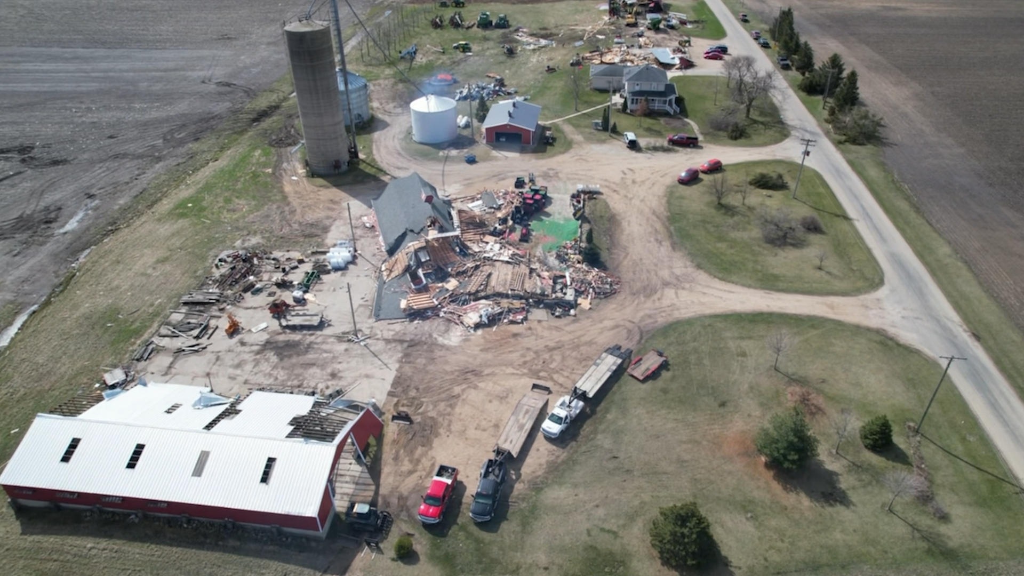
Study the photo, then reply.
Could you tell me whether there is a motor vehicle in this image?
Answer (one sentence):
Yes, a motor vehicle can be made out from above.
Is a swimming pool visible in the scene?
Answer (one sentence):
No, I can see no swimming pool in this picture.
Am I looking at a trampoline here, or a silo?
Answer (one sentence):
Visible in the photo is a silo.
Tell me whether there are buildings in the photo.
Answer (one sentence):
Yes, there's a building here.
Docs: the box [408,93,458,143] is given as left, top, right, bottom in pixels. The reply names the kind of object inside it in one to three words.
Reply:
silo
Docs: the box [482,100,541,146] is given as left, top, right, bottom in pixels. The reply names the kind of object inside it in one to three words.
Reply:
building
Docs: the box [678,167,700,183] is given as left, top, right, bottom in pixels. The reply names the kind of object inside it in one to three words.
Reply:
car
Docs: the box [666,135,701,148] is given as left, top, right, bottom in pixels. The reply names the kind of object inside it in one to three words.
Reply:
vehicle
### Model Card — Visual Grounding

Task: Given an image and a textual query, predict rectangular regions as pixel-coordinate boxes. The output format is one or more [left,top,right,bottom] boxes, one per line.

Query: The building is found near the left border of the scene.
[0,378,383,540]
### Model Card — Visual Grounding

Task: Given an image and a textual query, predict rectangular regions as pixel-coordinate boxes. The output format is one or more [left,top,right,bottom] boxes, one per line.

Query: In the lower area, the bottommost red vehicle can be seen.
[418,462,460,525]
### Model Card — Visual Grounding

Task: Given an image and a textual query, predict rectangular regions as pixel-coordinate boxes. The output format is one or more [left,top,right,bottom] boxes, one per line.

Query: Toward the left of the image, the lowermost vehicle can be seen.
[342,504,404,544]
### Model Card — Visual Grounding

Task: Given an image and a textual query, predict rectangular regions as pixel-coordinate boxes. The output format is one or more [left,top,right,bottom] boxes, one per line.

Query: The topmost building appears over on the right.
[587,64,686,116]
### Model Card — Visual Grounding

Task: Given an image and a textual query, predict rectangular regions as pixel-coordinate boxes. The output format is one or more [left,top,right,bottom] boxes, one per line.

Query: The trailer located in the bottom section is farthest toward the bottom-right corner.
[627,348,669,379]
